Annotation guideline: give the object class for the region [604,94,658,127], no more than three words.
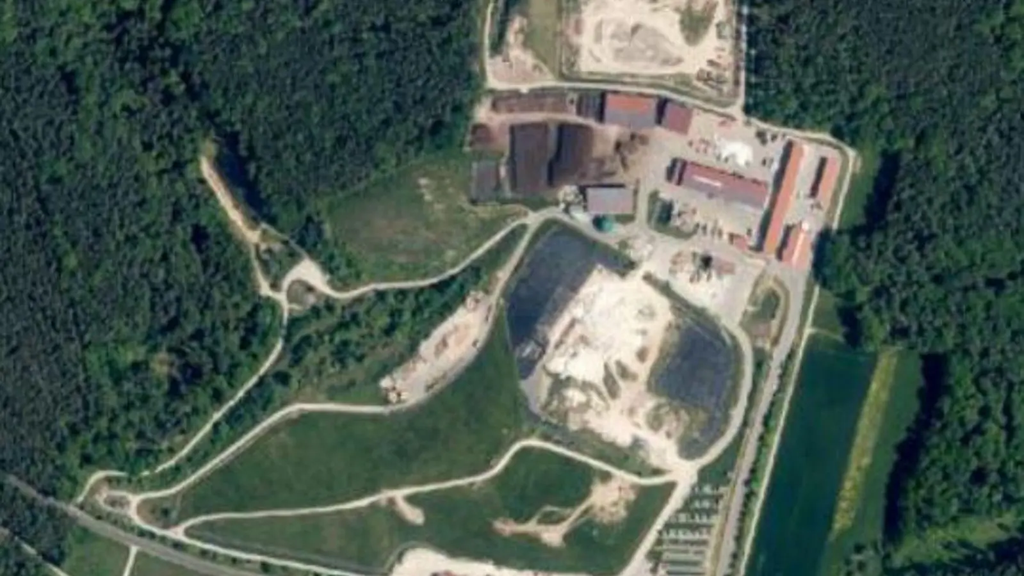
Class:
building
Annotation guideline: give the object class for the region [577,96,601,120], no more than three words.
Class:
shed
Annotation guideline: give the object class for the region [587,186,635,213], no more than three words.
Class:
building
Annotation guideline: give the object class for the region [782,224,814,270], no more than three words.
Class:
house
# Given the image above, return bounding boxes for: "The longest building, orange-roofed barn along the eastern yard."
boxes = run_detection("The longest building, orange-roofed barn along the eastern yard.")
[763,140,807,257]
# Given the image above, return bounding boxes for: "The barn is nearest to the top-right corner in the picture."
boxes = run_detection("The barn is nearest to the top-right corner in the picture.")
[819,156,842,205]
